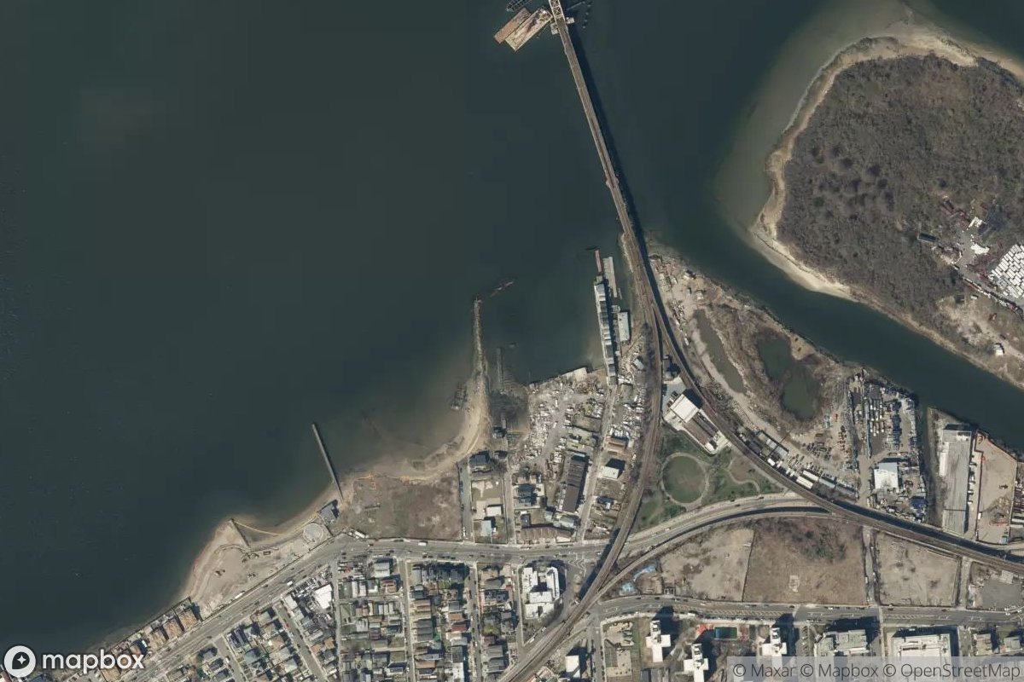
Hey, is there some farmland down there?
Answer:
No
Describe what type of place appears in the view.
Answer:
port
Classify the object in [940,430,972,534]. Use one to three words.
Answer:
shed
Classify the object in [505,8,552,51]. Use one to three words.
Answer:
ship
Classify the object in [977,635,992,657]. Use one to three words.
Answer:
house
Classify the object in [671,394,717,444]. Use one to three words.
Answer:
building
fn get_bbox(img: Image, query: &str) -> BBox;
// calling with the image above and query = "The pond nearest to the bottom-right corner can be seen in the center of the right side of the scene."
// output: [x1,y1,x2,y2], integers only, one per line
[759,333,820,418]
